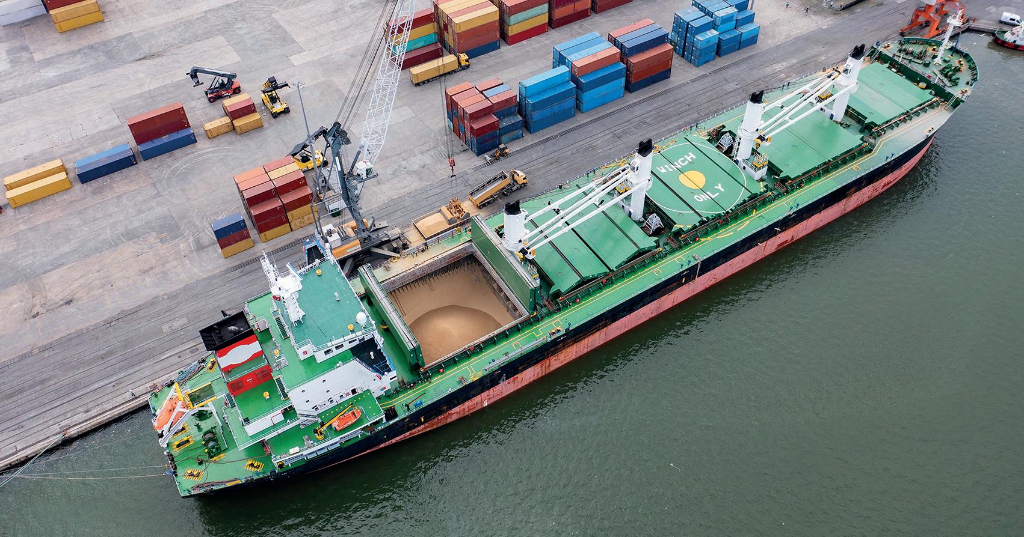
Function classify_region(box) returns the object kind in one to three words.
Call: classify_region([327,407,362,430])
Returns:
boat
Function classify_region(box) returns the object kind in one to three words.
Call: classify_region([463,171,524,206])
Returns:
truck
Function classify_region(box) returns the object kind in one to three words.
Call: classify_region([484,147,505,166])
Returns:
work vehicle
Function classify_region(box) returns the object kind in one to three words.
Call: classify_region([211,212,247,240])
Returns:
shipping container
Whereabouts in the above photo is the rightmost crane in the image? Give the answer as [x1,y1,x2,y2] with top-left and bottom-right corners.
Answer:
[896,0,956,40]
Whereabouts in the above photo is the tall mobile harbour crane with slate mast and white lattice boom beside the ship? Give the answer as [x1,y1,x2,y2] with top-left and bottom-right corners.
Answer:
[311,0,456,281]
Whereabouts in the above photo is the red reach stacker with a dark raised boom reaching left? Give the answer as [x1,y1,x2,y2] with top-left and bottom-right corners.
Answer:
[179,66,238,100]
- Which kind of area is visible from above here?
port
